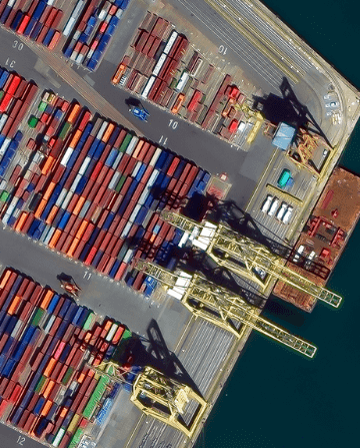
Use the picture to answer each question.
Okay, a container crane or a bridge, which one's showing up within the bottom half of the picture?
container crane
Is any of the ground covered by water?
Yes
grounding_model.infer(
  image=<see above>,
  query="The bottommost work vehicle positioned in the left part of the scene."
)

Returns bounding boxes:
[59,280,82,296]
